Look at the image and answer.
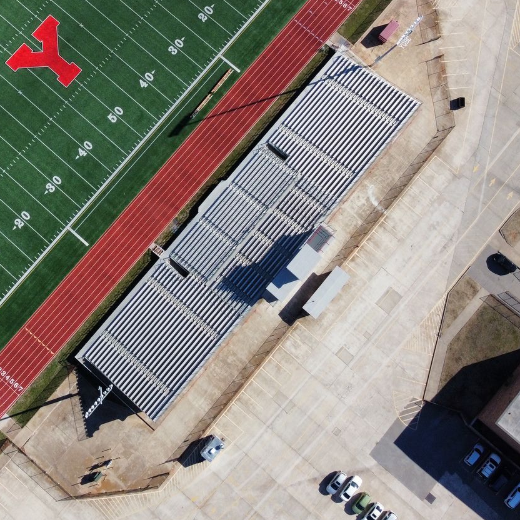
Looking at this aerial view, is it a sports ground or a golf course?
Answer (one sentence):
This image shows a sports ground.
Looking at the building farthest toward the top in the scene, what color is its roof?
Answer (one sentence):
The color of the roof on the building farthest toward the top is white.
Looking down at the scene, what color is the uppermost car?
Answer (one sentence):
The color of the uppermost car is black.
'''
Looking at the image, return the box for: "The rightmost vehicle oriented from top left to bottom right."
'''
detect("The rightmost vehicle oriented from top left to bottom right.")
[493,252,520,275]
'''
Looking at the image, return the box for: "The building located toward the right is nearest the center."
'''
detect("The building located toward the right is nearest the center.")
[302,266,350,319]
